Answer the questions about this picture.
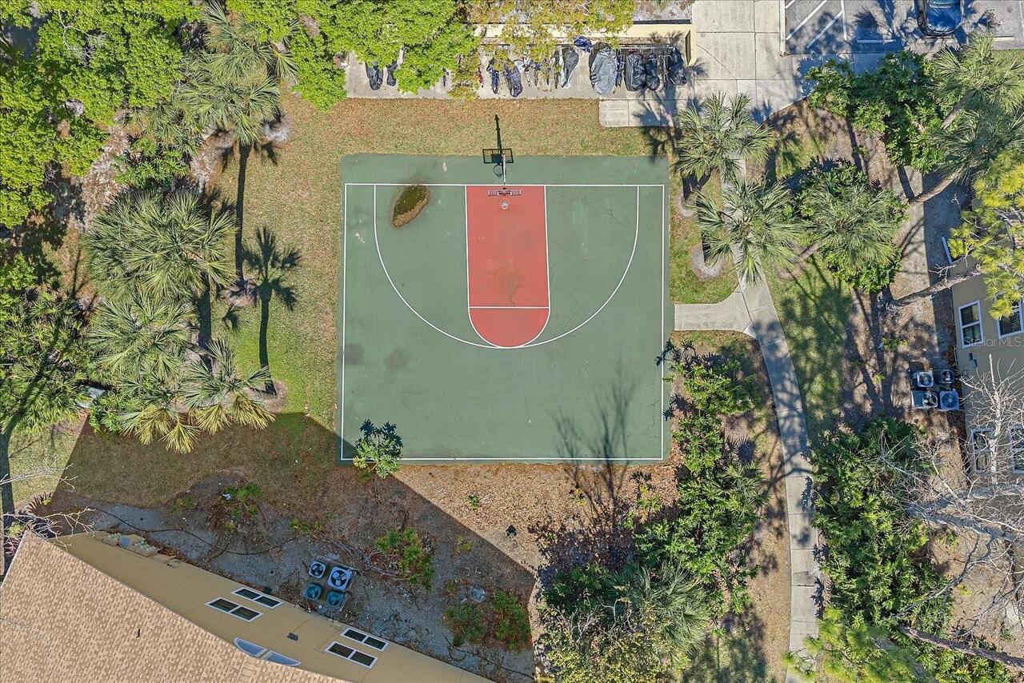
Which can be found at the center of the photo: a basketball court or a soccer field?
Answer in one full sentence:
What appears at the center of the photo is a basketball court.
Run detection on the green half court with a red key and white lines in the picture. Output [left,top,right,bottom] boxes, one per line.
[336,154,671,466]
